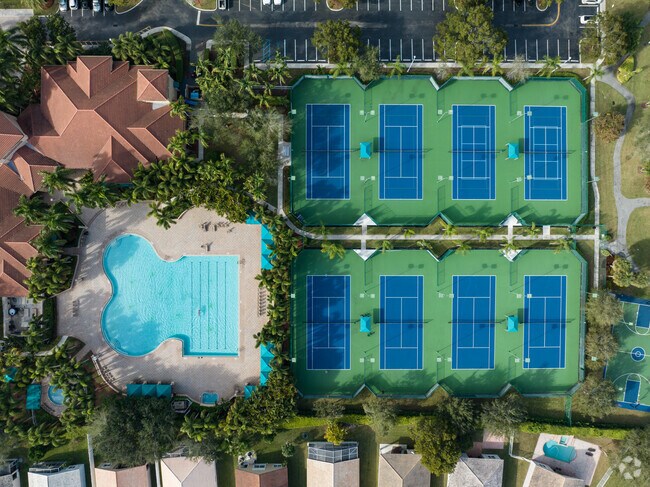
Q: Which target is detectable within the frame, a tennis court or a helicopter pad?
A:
tennis court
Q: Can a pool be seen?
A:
Yes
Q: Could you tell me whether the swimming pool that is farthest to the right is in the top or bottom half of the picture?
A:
bottom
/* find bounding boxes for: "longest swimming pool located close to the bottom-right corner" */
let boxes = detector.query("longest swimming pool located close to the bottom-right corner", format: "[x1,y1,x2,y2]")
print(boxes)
[542,439,579,464]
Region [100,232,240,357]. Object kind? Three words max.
swimming pool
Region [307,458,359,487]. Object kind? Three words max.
house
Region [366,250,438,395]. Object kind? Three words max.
tennis court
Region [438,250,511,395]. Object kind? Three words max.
tennis court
